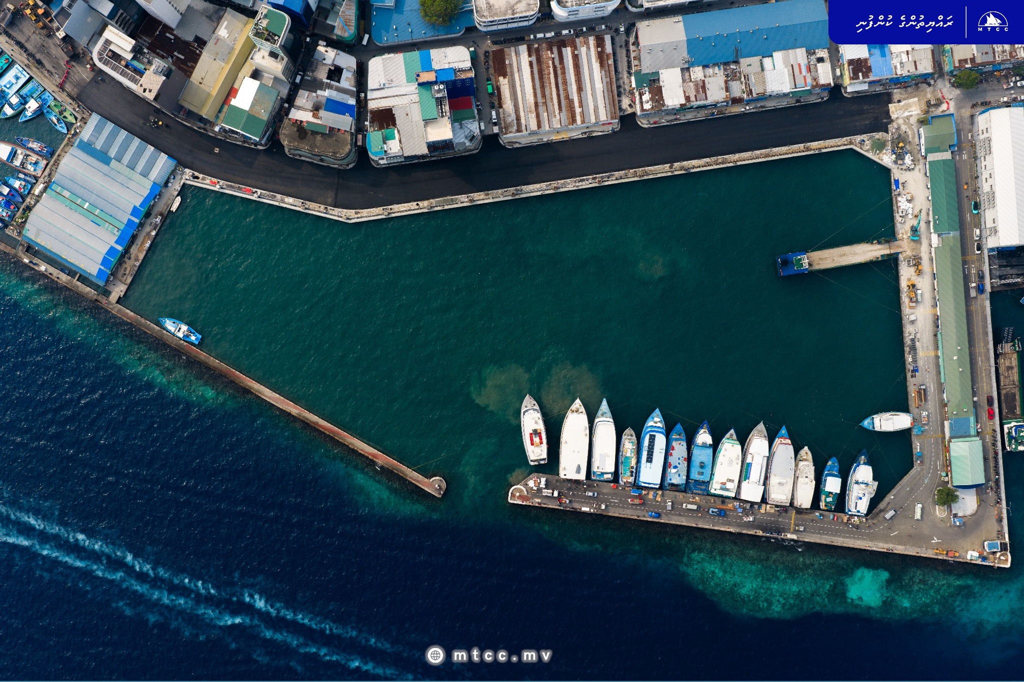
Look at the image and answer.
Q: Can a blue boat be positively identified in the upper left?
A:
Yes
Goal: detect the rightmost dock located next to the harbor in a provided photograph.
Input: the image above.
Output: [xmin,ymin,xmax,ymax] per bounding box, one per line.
[508,114,1013,567]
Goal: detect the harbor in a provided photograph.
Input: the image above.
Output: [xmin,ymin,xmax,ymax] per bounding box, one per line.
[0,43,894,296]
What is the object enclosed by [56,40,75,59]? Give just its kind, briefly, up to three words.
vehicle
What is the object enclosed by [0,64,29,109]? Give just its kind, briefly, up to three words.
boat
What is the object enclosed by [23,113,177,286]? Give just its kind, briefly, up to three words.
building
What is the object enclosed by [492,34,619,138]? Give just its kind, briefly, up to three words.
building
